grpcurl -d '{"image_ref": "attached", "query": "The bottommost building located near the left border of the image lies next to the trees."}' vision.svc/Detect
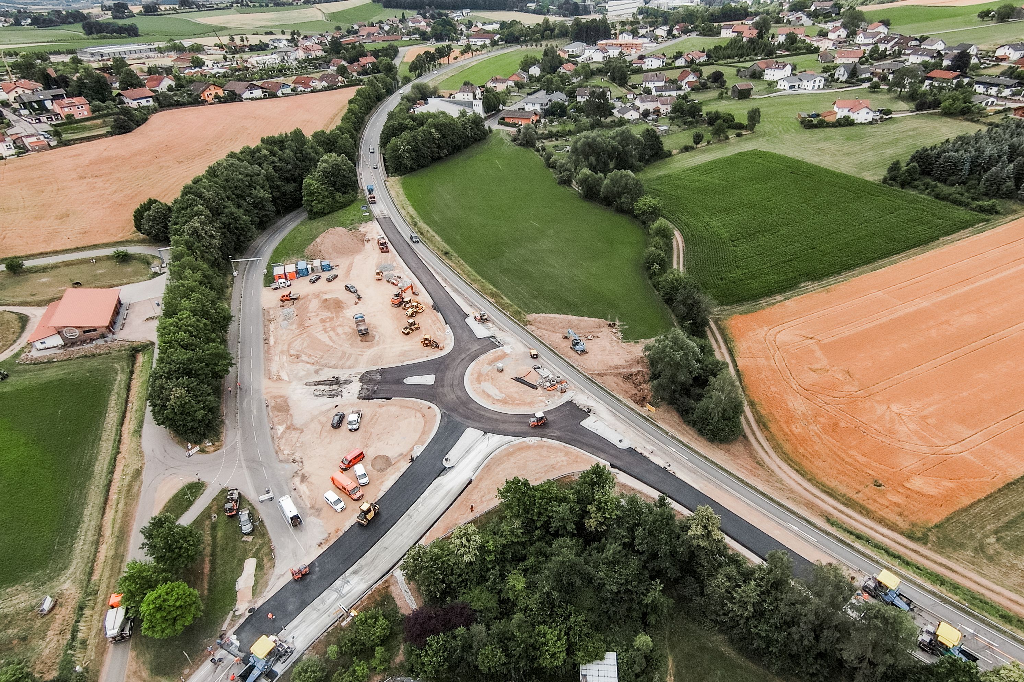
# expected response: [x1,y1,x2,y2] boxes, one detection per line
[15,289,124,354]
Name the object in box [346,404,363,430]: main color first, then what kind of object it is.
white vehicle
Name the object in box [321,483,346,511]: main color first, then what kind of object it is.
white car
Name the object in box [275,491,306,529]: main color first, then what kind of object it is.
white van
